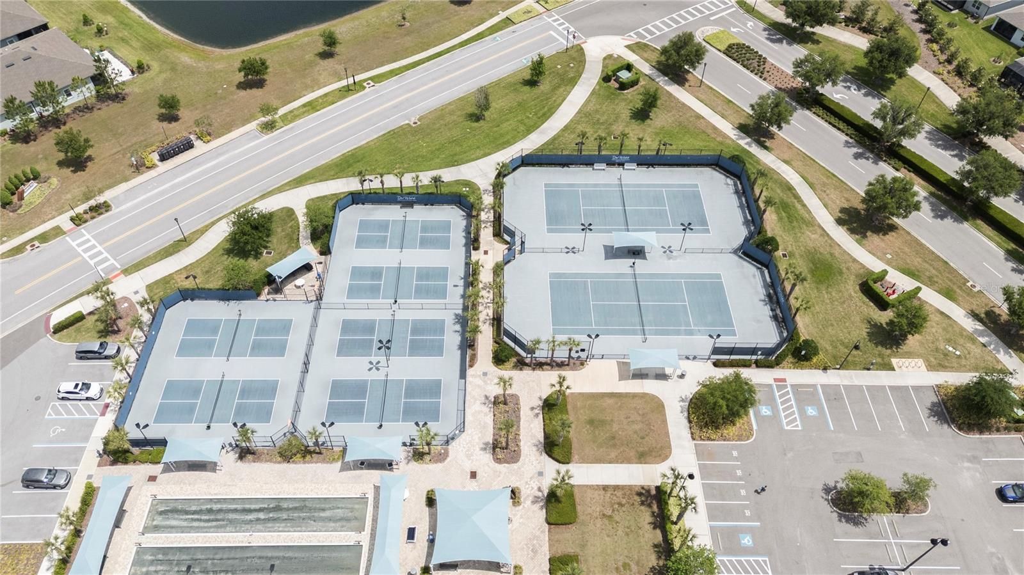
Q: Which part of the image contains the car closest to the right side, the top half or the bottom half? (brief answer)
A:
bottom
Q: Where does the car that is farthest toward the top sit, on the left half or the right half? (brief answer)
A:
left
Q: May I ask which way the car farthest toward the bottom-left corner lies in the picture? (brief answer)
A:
from side to side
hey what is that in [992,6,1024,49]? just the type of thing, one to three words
house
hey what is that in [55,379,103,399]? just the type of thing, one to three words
car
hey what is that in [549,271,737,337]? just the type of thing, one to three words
tennis court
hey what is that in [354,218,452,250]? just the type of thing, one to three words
sports court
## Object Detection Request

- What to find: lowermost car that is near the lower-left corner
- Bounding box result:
[18,465,72,488]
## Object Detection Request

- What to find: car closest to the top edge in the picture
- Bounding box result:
[73,338,120,358]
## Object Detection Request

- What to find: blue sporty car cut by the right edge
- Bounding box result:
[996,483,1024,505]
